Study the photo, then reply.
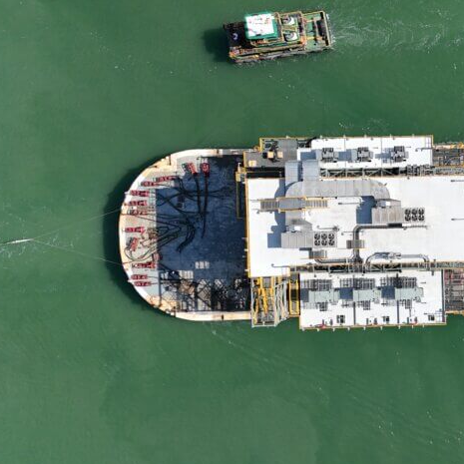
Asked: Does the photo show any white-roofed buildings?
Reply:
Yes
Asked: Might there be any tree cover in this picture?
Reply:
No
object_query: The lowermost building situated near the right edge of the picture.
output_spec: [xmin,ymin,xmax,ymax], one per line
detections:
[299,270,447,333]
